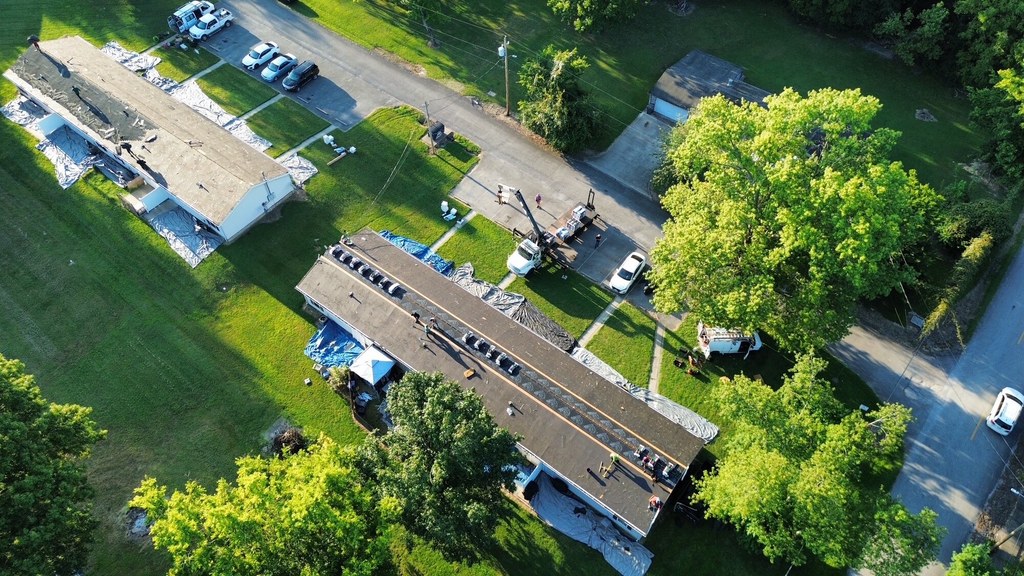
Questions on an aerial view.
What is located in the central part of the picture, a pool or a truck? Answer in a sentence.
Visible in the central part of the picture is a truck.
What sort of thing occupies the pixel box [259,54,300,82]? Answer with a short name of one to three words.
car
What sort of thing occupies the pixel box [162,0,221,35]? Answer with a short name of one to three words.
van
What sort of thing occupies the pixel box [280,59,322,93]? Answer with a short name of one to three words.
car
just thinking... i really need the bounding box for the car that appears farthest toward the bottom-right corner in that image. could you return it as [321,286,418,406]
[980,386,1024,441]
